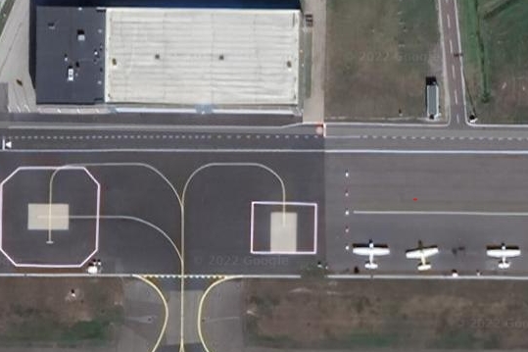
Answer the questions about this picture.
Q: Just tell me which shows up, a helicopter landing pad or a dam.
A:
helicopter landing pad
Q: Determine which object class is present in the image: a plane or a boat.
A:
plane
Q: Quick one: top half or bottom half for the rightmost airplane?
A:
bottom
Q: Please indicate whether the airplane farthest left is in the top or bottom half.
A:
bottom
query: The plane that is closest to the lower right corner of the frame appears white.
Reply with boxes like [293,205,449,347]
[486,246,520,271]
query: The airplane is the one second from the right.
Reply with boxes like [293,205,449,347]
[405,246,438,273]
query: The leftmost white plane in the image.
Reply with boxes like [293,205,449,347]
[352,243,389,270]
